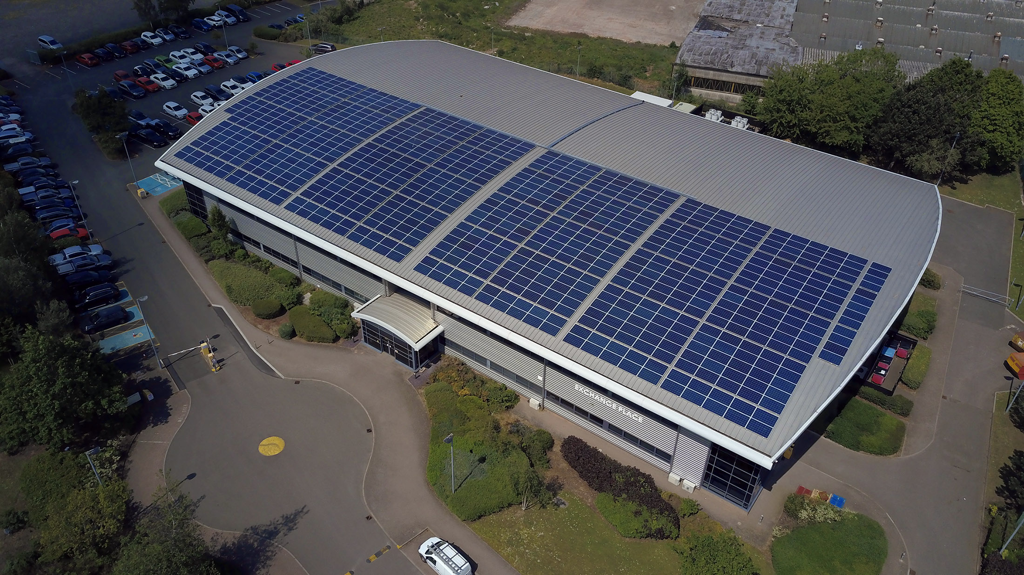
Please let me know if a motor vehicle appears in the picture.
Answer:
Yes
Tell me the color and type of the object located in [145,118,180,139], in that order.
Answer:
black truck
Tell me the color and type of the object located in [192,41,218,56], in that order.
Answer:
black car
